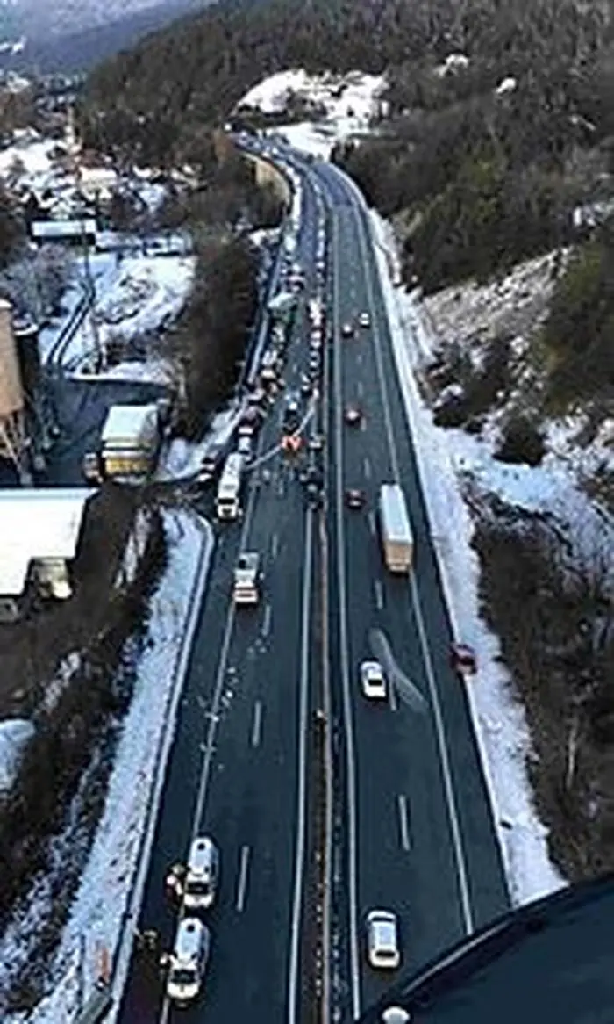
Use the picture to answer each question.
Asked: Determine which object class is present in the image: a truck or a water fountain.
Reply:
truck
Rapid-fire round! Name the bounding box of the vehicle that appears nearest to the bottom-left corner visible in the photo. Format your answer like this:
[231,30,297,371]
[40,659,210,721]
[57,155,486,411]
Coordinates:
[164,914,212,1005]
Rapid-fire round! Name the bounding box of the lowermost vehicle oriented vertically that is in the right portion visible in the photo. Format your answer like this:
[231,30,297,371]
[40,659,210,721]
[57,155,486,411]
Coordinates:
[367,911,399,976]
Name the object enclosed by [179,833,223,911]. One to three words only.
van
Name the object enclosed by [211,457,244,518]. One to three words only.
bus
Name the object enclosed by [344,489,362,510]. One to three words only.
car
